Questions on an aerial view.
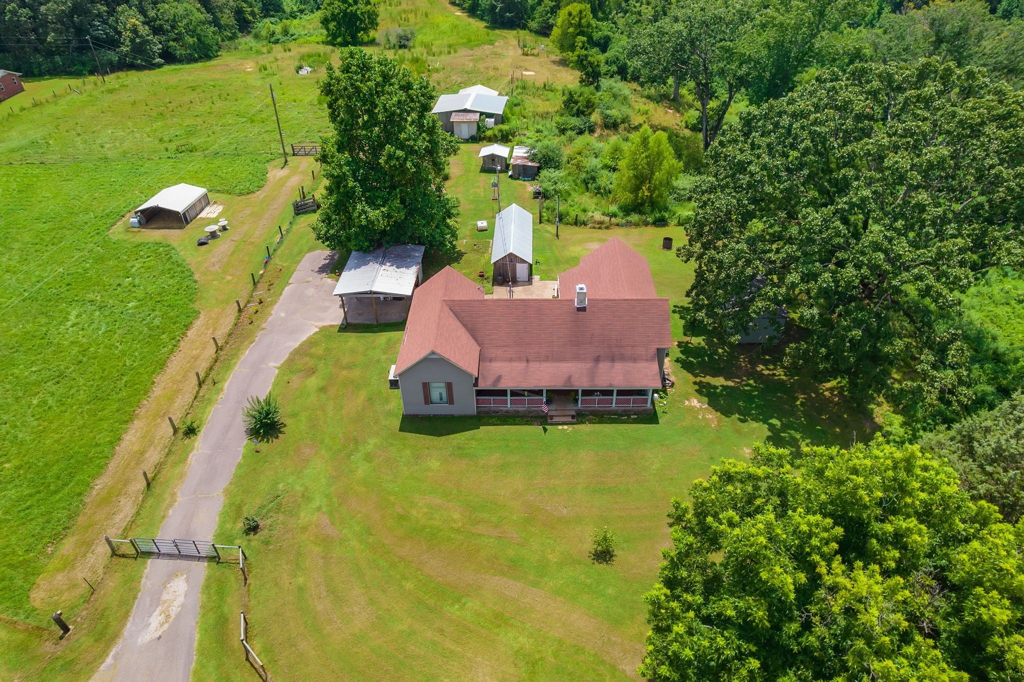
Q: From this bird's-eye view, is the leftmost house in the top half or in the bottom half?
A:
top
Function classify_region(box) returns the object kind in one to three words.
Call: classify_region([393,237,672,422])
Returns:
house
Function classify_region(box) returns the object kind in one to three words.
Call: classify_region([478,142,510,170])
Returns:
shed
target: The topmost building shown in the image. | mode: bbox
[0,64,32,99]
